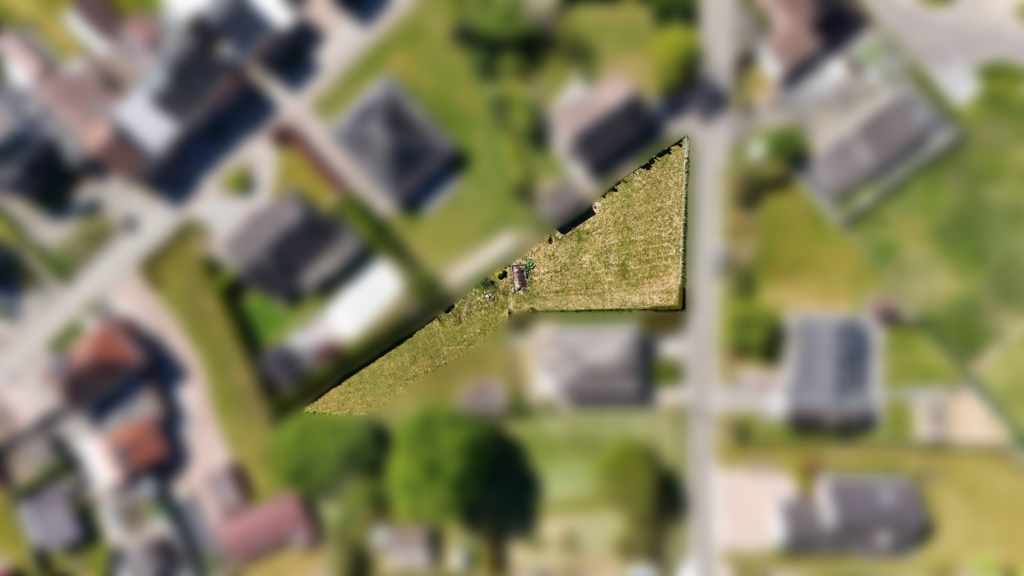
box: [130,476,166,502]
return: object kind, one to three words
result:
shed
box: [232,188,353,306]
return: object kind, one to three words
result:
house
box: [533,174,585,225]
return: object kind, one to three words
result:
building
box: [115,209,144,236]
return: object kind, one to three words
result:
car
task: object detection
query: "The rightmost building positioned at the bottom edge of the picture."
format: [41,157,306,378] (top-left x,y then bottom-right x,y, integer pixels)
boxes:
[823,471,931,552]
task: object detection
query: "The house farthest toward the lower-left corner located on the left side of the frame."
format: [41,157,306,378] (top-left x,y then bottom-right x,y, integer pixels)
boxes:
[18,482,92,553]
